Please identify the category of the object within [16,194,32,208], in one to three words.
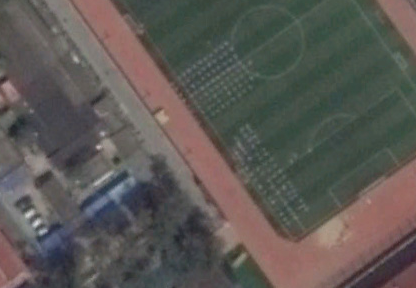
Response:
vehicle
